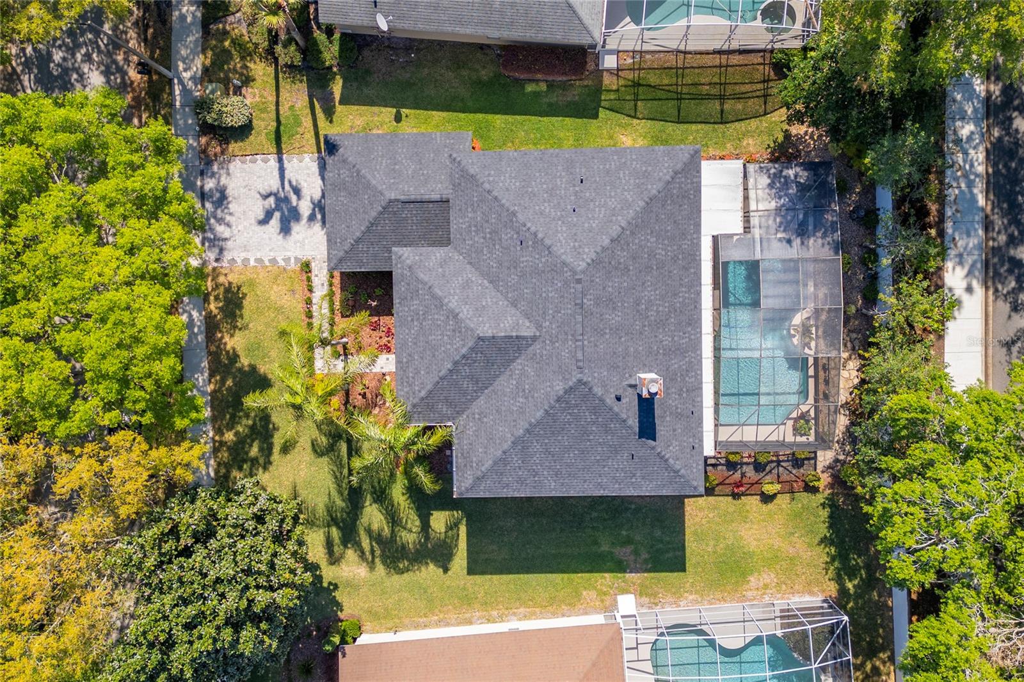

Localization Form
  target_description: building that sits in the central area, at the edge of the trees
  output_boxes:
[323,131,706,499]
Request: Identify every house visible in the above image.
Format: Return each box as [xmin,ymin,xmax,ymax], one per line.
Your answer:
[317,0,603,51]
[323,131,706,499]
[338,614,627,682]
